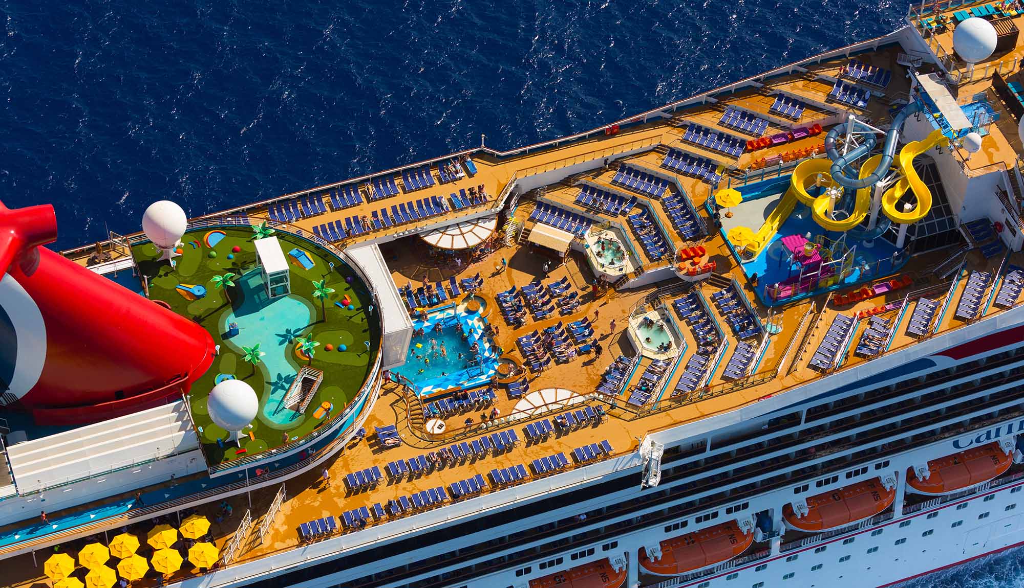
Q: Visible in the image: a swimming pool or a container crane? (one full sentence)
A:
It is a swimming pool that can be seen here.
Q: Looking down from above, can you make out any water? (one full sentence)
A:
Yes, there is water in the image.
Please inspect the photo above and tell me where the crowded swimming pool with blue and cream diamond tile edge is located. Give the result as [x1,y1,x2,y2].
[383,304,500,403]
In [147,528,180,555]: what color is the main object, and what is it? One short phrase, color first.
yellow umbrella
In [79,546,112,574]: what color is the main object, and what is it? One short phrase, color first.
yellow umbrella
